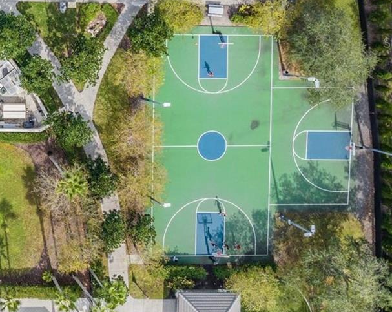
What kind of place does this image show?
sports ground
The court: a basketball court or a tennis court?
basketball court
